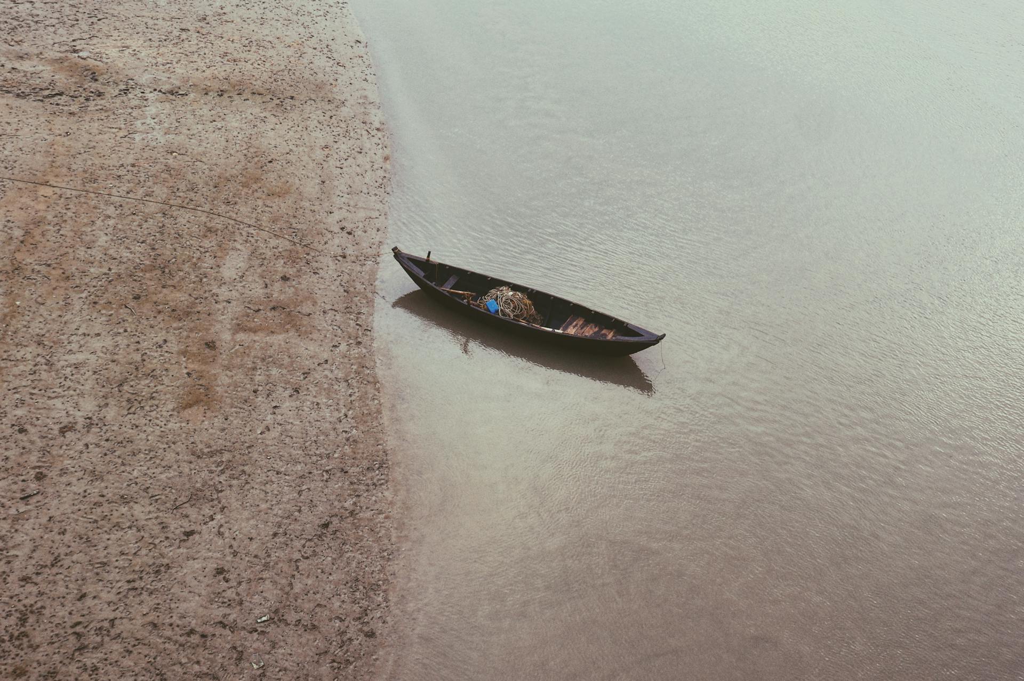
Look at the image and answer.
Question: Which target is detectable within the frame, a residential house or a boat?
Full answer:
It is a boat that can be seen here.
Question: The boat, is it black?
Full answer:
Yes, the boat appears black.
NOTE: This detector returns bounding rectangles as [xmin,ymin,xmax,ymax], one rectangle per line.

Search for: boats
[388,245,670,359]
